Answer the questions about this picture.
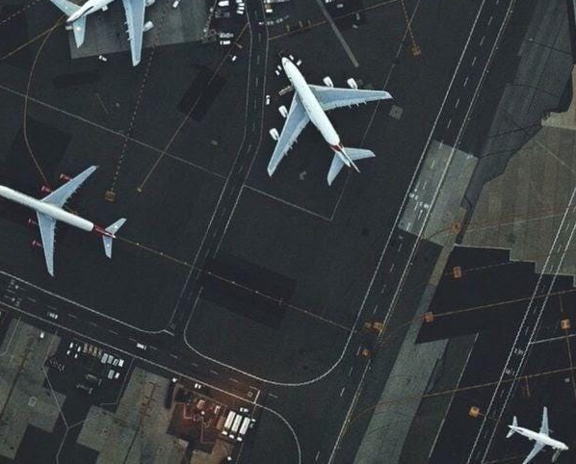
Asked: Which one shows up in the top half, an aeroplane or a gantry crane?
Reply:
aeroplane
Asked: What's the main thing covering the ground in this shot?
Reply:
paved ground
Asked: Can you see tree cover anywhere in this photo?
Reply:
No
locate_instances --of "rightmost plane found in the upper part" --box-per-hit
[269,57,396,187]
